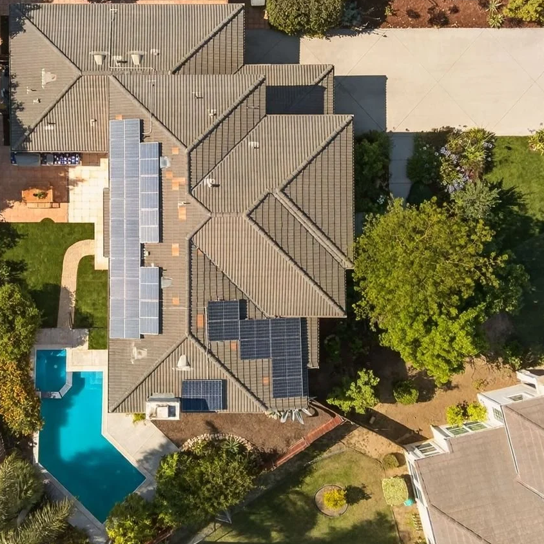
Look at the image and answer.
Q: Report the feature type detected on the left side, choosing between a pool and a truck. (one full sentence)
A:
Looking on the left side, you will find a pool.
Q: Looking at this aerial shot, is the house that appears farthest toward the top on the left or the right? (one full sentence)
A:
The house that appears farthest toward the top appears in the left half of the scene.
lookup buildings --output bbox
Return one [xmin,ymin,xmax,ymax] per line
[406,367,544,544]
[9,2,355,422]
